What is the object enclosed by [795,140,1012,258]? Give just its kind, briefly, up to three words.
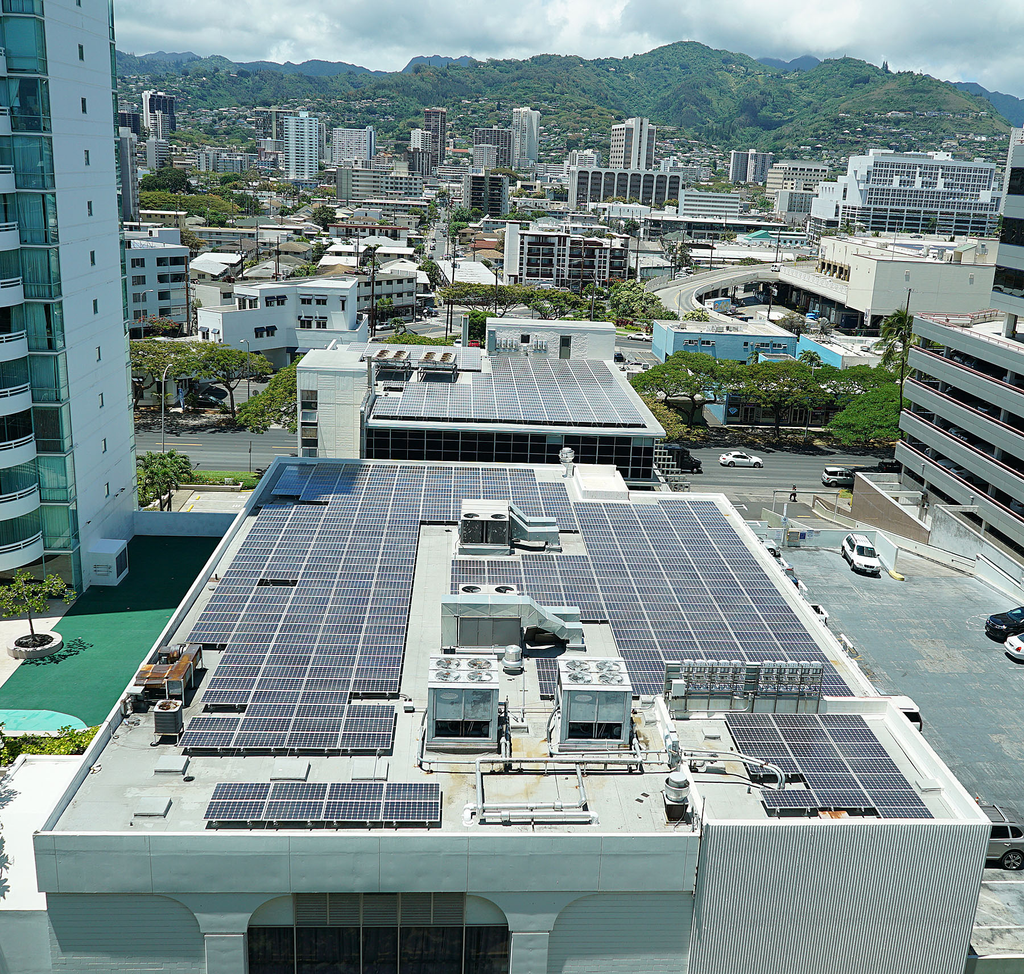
building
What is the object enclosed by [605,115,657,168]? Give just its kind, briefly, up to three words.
building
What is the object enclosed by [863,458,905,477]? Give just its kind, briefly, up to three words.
vehicle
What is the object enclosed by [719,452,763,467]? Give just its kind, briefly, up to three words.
car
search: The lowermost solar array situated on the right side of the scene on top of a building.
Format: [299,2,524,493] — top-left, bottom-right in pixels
[723,714,938,815]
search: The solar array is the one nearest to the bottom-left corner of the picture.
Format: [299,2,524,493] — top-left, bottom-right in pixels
[203,783,442,834]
